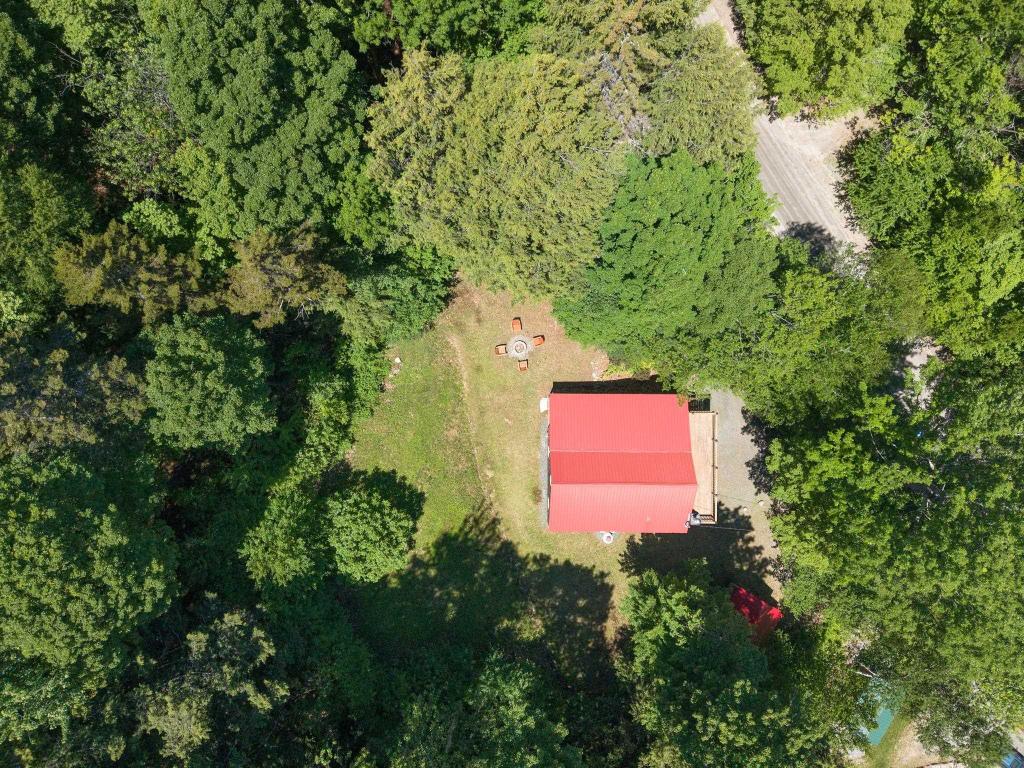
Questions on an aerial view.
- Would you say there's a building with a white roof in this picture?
No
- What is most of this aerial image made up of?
trees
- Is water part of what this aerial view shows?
No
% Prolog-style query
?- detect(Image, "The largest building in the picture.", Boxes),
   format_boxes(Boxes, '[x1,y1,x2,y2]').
[549,393,697,533]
